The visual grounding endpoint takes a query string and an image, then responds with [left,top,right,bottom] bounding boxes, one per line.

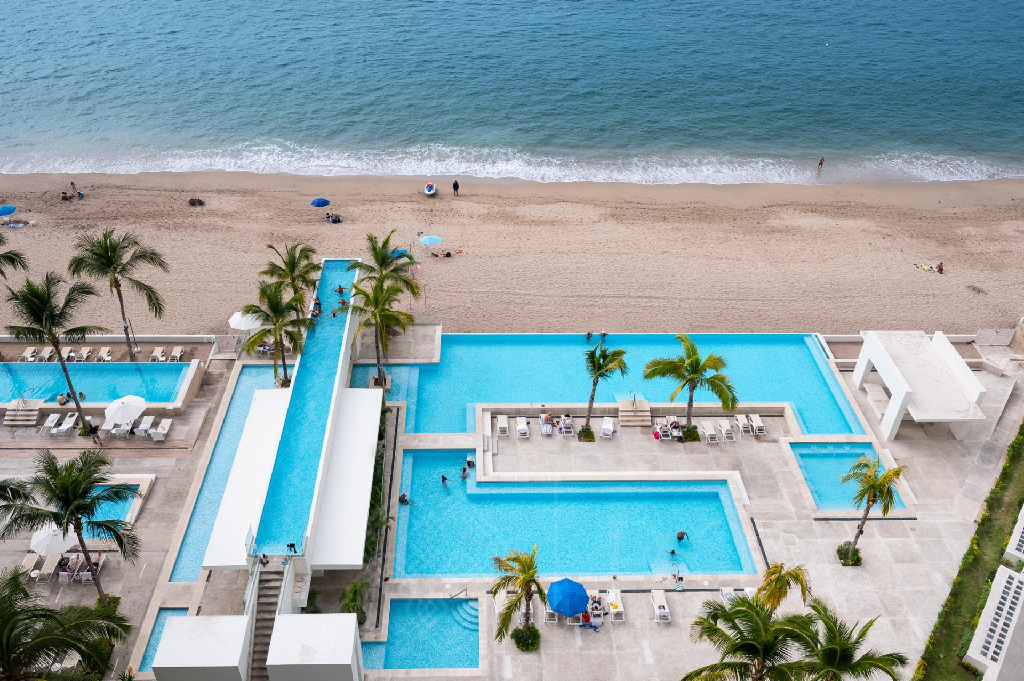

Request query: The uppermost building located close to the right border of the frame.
[853,331,987,440]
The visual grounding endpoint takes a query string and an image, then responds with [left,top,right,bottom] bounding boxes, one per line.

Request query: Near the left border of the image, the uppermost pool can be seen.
[0,359,203,415]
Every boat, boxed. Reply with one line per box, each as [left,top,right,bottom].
[424,181,436,197]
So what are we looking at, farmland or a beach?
beach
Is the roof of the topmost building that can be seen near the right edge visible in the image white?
Yes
